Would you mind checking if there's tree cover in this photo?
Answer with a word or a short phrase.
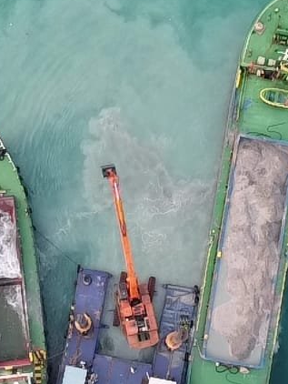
No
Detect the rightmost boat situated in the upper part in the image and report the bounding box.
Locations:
[259,86,288,109]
